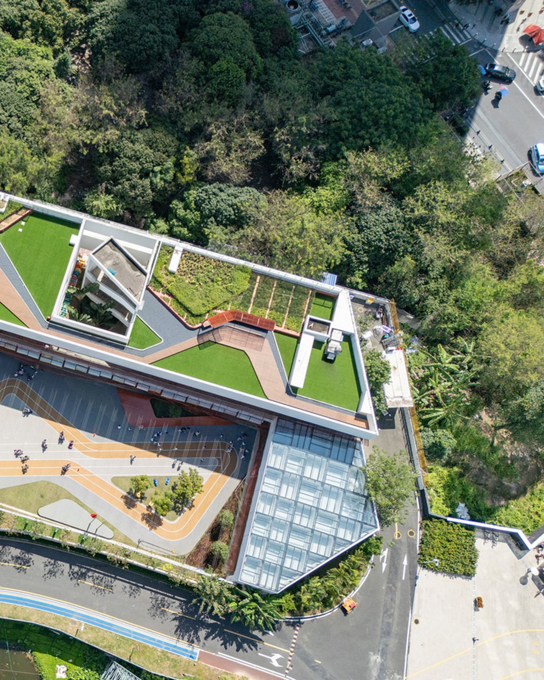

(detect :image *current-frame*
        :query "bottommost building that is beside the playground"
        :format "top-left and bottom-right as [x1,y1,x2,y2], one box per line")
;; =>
[213,418,379,594]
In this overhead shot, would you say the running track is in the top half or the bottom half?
bottom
